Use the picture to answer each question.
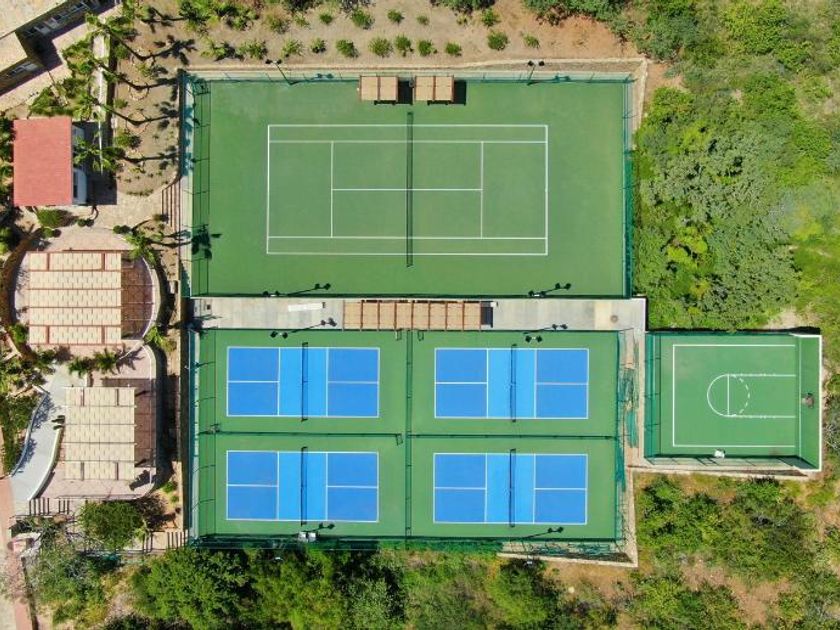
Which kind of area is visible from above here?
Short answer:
sports ground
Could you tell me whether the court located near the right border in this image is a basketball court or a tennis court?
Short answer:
basketball court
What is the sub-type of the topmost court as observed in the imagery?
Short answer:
tennis court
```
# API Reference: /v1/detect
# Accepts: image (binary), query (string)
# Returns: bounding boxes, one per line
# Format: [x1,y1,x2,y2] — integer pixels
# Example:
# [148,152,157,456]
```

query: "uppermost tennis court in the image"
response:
[194,82,624,296]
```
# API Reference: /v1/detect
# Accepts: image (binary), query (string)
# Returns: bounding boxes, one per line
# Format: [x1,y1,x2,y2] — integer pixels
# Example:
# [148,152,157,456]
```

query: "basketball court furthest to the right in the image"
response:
[646,334,799,459]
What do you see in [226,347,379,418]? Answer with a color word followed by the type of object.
blue sports court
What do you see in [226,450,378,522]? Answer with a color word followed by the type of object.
blue sports court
